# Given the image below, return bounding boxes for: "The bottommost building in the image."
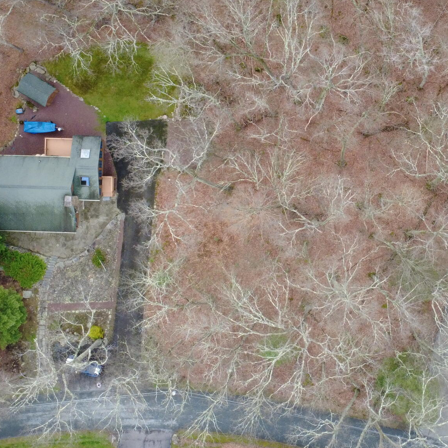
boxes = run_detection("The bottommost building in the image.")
[0,136,122,234]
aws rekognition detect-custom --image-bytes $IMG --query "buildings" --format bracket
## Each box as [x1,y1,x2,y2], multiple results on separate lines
[17,73,63,106]
[0,136,122,234]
